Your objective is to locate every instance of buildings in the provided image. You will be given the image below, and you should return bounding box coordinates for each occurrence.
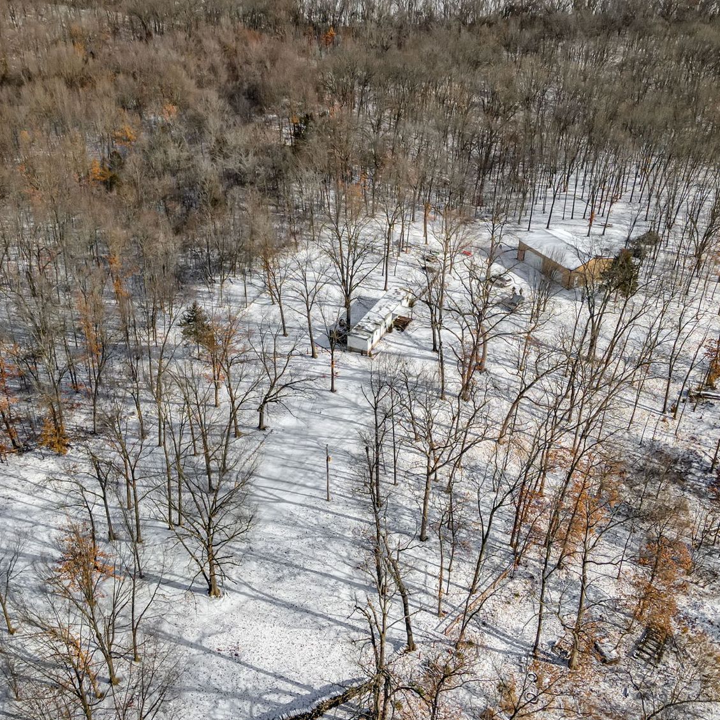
[518,224,616,289]
[346,283,409,350]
